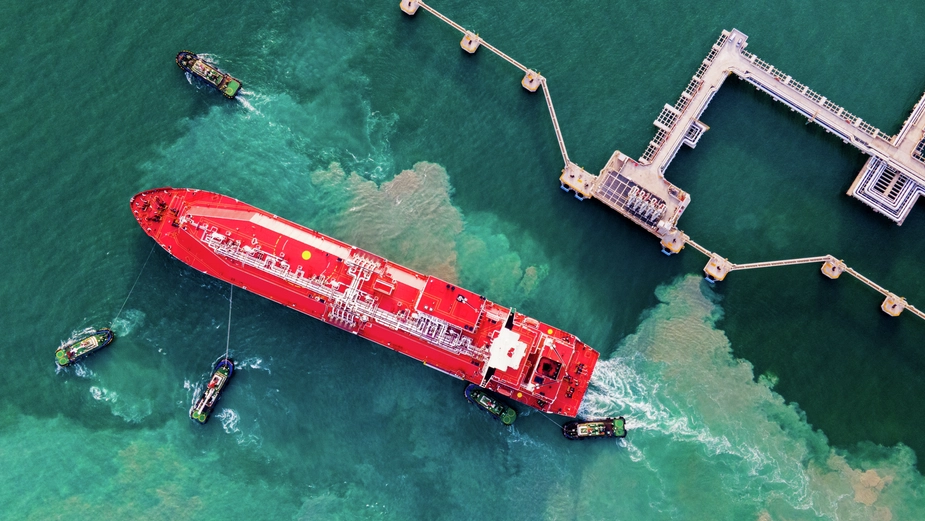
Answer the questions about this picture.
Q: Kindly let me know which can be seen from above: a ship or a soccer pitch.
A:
ship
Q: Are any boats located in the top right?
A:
No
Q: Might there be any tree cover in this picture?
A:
No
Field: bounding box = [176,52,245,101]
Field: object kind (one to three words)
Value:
boat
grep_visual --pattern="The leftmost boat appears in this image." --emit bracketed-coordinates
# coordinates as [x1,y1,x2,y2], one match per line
[52,327,117,368]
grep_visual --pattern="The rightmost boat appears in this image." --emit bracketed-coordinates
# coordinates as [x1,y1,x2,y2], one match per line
[562,417,627,439]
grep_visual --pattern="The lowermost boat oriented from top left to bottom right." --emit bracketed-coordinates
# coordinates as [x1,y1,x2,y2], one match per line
[464,384,519,426]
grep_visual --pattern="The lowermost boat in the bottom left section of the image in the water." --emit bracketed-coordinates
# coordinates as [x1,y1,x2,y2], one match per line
[191,355,234,423]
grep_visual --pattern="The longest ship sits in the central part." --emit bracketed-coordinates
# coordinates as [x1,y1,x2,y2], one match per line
[128,188,602,416]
